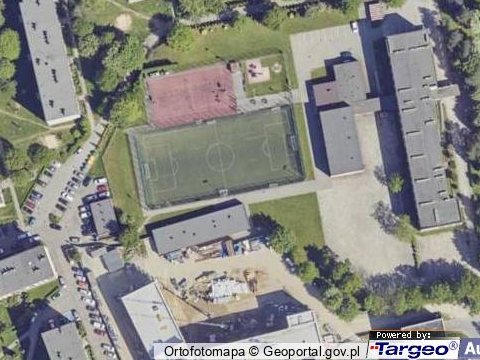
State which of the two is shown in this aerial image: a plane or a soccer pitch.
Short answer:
soccer pitch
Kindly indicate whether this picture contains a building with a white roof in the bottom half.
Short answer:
Yes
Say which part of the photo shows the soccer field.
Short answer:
center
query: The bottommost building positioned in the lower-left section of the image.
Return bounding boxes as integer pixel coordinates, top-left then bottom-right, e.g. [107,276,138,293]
[41,323,88,360]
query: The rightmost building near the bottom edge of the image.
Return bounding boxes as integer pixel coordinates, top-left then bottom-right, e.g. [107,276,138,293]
[402,318,447,353]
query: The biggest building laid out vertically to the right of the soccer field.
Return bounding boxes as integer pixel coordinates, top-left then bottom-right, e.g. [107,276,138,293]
[387,30,461,231]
